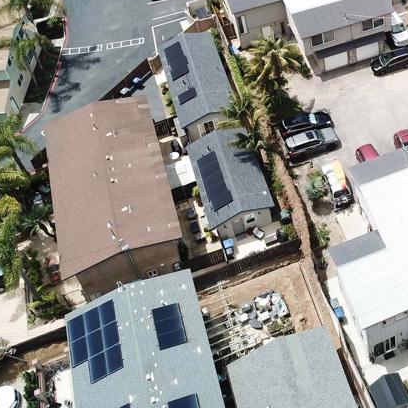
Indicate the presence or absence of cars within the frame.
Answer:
Yes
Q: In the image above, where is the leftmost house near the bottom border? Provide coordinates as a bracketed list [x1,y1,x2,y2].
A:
[66,270,225,408]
